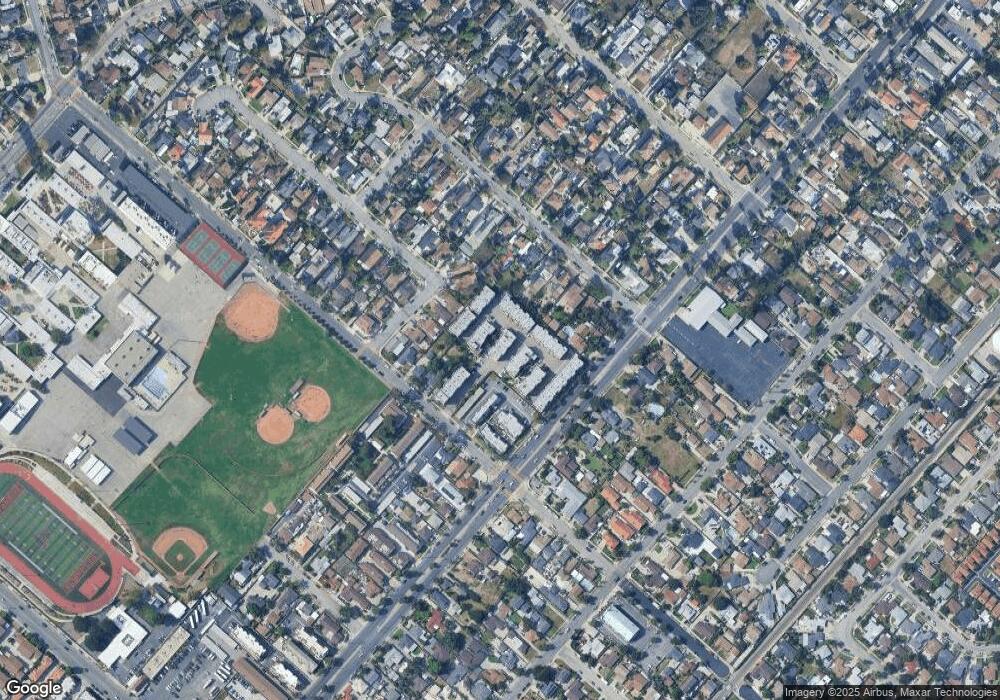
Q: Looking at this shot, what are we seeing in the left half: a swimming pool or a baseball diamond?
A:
baseball diamond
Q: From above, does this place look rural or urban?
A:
urban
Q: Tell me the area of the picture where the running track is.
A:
bottom left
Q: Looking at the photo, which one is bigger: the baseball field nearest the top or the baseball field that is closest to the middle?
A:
the baseball field nearest the top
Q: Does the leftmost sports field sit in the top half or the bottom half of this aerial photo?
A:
bottom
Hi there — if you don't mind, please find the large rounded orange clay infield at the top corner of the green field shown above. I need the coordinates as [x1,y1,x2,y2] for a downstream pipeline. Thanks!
[225,280,280,342]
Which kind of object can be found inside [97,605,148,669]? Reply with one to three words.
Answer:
building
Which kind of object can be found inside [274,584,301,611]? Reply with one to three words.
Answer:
house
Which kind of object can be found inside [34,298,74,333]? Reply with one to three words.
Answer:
building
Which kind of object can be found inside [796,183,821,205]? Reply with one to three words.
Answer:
house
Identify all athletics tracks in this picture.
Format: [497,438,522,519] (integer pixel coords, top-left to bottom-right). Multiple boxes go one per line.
[0,461,137,614]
